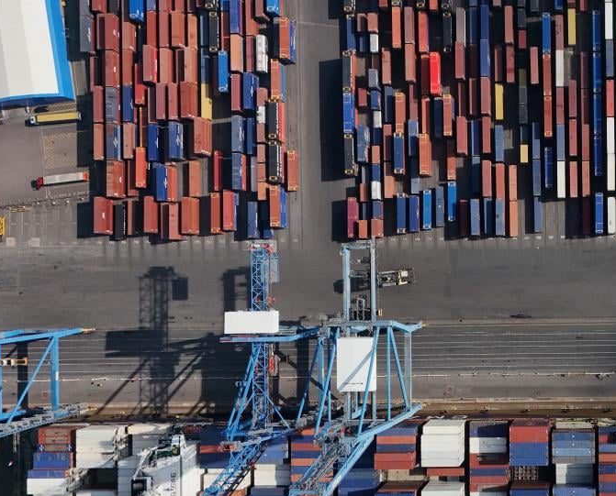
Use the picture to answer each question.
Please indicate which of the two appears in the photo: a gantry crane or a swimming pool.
gantry crane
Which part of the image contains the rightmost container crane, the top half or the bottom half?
bottom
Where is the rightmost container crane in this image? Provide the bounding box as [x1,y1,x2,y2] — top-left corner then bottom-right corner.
[294,237,429,496]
